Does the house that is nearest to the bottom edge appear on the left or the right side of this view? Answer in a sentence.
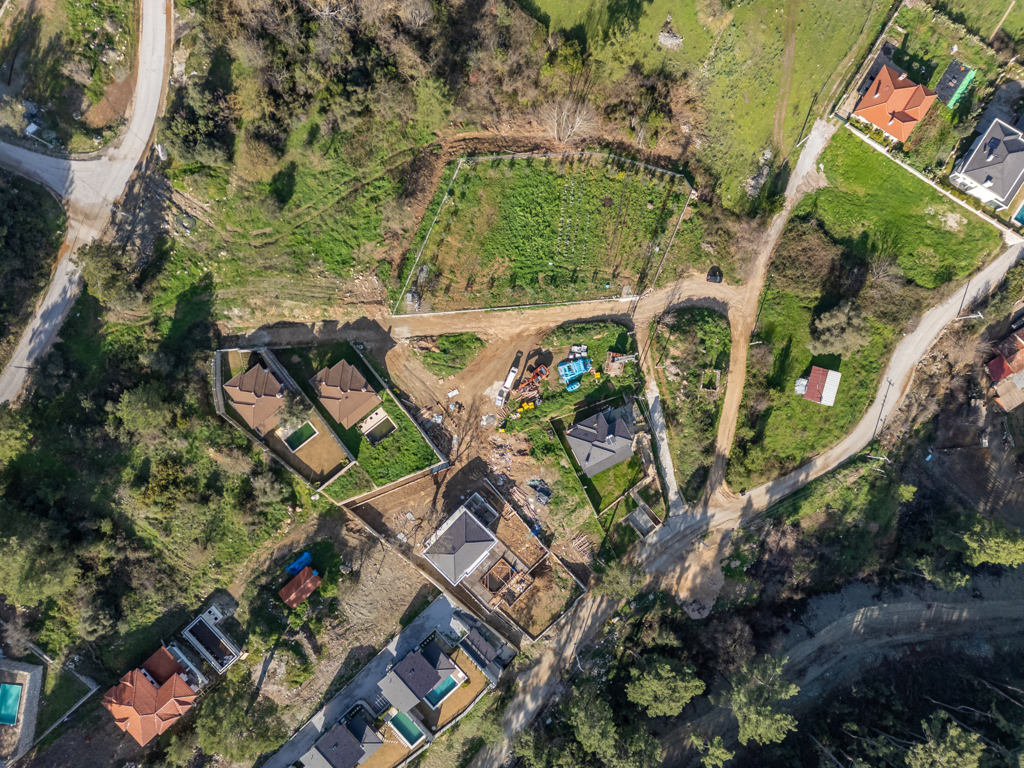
The house that is nearest to the bottom edge sits on the left side.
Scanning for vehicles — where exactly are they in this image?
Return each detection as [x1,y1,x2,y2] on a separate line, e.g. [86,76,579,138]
[707,275,723,283]
[494,394,502,408]
[503,366,518,392]
[860,74,875,93]
[510,363,551,395]
[1010,318,1024,331]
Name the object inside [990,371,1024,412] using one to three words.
barn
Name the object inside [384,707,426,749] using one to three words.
swimming pool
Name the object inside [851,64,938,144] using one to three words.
house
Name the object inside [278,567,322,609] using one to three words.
shed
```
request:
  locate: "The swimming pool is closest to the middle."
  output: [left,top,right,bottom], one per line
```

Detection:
[359,407,398,446]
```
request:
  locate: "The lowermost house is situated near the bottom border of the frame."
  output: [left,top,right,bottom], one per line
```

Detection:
[300,706,384,768]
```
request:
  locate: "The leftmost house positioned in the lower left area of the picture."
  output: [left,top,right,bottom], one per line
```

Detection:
[101,643,207,747]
